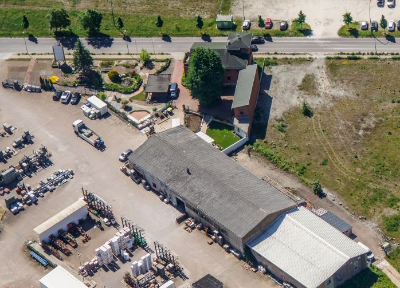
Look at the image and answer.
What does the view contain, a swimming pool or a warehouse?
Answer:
warehouse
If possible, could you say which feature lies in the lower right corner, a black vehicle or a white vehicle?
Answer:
white vehicle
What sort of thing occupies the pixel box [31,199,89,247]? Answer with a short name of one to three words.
shed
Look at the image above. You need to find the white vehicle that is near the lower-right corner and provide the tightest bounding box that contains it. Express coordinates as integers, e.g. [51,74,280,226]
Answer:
[358,239,376,260]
